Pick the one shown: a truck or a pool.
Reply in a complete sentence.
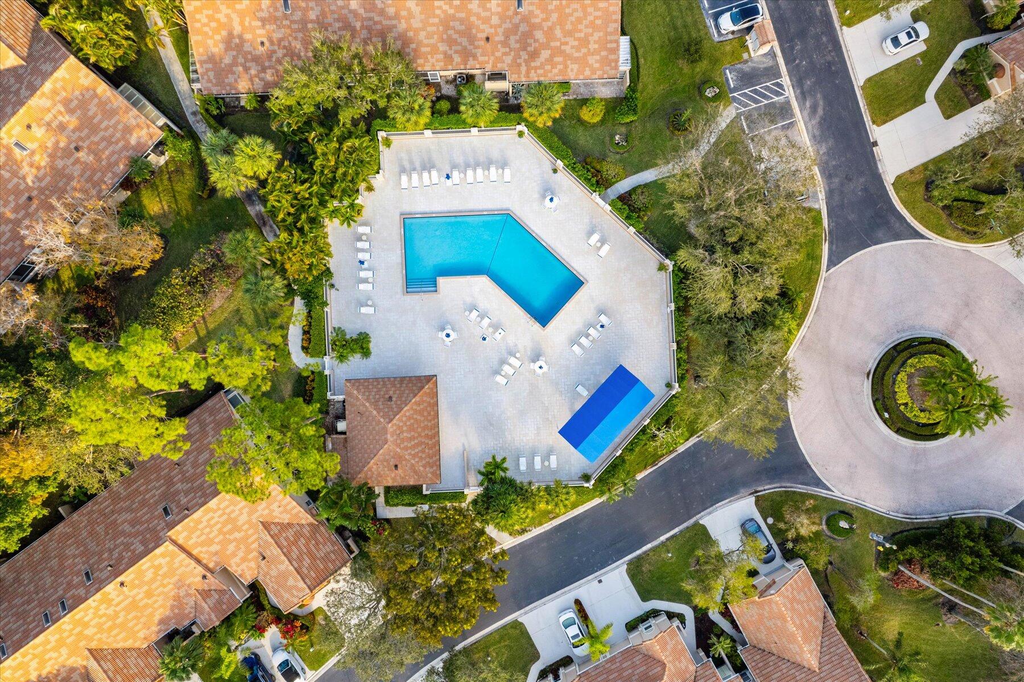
I can see a pool in this picture.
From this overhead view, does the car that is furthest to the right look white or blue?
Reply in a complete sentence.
In this view, the car that is furthest to the right is white.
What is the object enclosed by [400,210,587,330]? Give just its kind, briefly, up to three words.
swimming pool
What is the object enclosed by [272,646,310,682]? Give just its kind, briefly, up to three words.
car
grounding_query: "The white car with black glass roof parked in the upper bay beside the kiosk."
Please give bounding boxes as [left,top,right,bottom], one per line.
[716,0,765,34]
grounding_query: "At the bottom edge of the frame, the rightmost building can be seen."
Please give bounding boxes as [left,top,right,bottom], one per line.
[726,554,880,682]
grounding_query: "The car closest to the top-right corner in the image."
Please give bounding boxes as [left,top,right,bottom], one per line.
[880,22,930,56]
